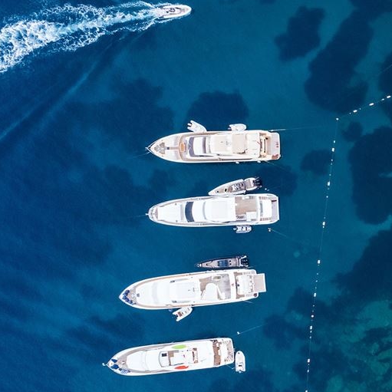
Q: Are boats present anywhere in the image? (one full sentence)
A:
Yes, the picture does show a boat.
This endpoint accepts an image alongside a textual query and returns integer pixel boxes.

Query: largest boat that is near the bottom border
[105,337,240,373]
